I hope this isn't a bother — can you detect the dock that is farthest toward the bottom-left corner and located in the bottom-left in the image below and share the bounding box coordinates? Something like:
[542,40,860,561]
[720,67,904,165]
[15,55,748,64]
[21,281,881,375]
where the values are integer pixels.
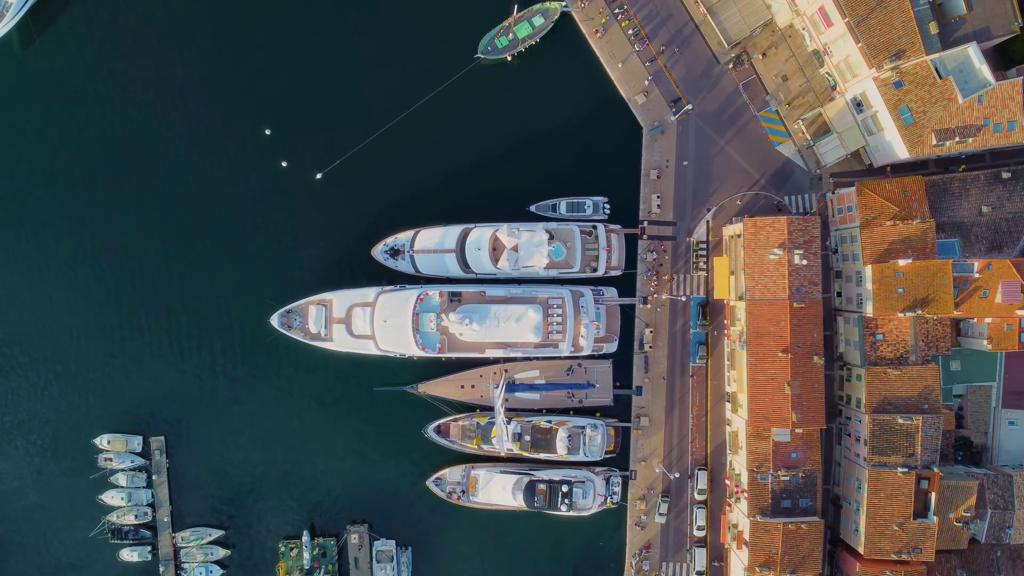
[147,436,176,576]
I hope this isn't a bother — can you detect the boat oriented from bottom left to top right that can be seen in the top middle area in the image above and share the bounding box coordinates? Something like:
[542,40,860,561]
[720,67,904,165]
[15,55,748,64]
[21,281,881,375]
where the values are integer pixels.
[473,1,566,60]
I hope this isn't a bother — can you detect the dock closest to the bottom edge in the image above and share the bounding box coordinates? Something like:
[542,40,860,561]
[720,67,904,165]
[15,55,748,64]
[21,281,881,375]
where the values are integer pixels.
[347,520,373,576]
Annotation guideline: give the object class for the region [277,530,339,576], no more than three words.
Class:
ship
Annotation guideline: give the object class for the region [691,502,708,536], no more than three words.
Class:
car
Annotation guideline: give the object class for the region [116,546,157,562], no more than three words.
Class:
boat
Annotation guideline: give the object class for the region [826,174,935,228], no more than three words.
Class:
house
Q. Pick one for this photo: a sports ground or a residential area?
residential area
